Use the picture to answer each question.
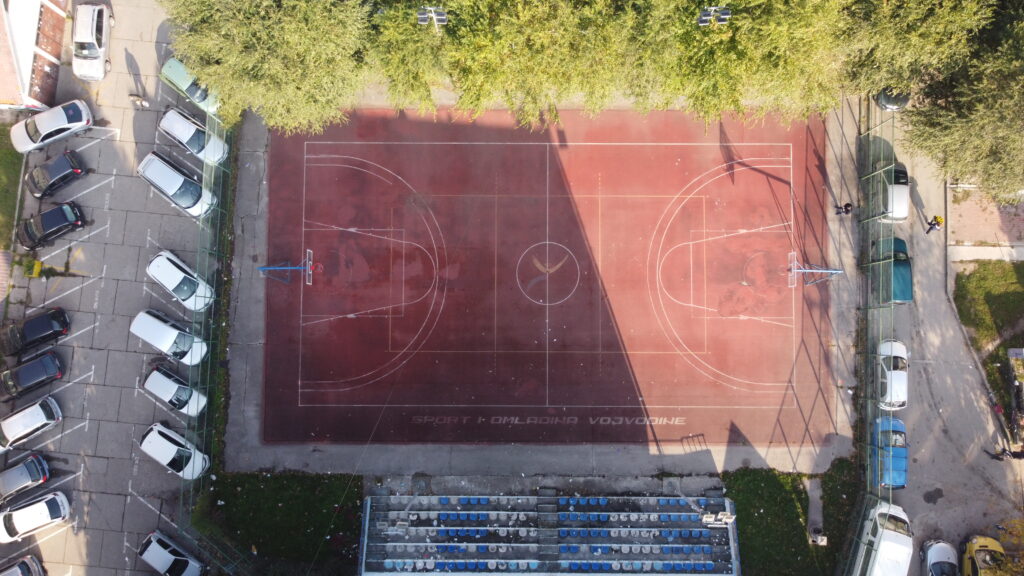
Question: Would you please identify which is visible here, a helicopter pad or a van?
van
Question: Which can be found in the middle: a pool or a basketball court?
basketball court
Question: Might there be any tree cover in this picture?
Yes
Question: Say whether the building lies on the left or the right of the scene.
left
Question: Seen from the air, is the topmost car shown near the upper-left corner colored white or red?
white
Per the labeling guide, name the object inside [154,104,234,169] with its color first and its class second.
white car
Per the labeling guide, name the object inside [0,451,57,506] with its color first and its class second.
gray car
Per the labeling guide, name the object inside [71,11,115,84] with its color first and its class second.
white car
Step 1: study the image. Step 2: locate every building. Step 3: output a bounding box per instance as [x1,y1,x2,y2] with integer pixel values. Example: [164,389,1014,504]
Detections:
[0,0,68,125]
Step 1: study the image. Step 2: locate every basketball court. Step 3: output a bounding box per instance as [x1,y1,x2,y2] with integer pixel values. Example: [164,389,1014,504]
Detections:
[261,109,837,448]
